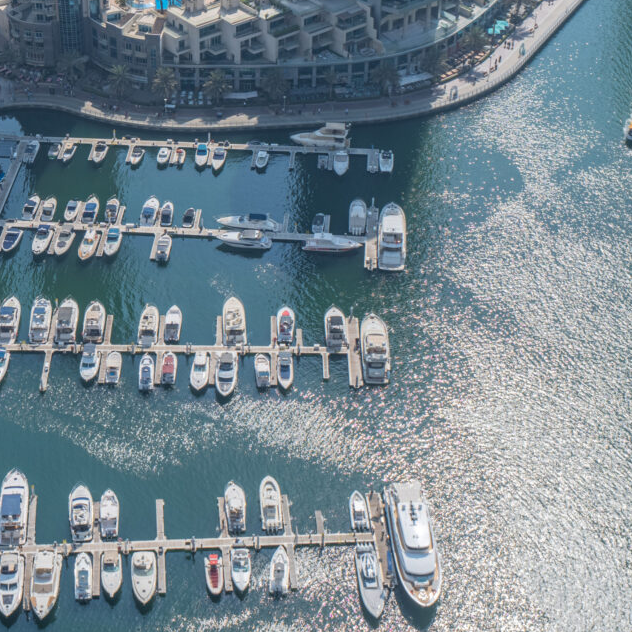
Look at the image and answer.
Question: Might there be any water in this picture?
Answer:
Yes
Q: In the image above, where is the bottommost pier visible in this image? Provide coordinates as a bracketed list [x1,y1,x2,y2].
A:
[0,481,396,616]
